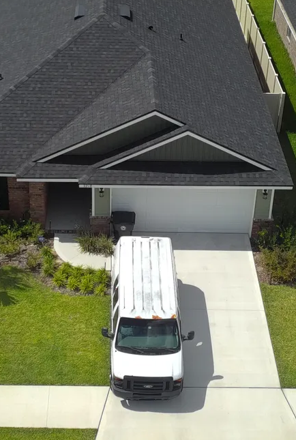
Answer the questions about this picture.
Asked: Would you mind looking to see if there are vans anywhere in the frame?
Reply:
Yes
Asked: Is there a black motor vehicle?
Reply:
No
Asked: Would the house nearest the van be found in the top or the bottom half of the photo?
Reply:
top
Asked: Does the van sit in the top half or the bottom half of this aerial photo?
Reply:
bottom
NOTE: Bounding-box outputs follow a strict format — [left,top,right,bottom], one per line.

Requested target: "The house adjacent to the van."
[0,0,296,235]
